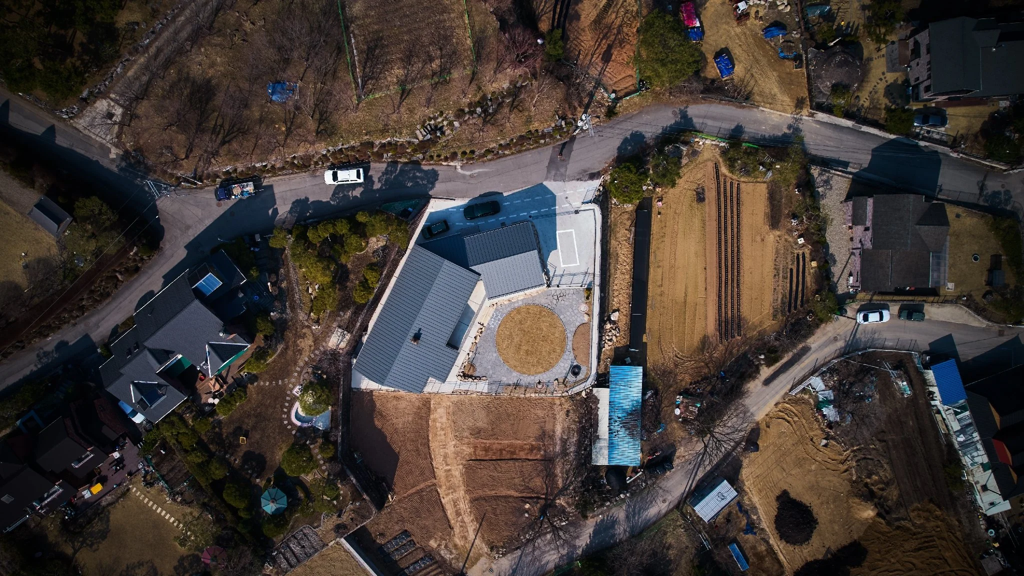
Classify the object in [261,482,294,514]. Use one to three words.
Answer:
gazebo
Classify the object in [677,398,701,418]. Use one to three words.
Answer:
shed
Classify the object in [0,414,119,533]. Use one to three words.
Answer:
house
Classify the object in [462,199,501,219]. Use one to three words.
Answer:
car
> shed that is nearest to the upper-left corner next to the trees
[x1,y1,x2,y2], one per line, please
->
[28,196,77,237]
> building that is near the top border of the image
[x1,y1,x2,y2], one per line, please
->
[909,17,1024,102]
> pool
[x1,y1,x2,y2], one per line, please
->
[292,385,331,430]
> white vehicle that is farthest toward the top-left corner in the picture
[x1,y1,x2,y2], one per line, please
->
[323,166,363,185]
